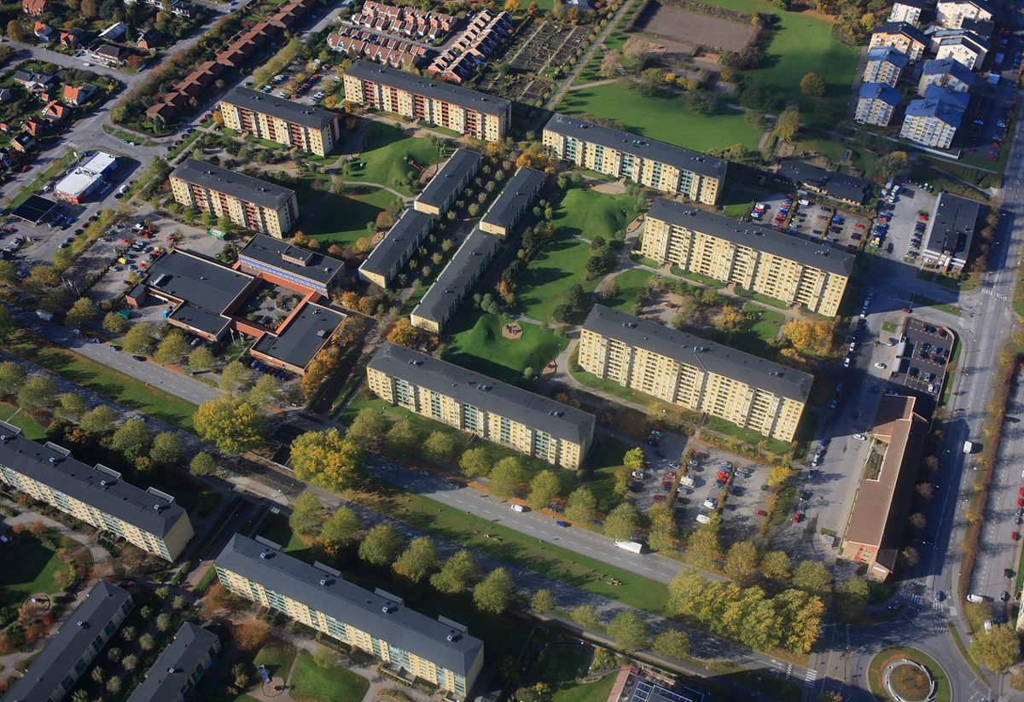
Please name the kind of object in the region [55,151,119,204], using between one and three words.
building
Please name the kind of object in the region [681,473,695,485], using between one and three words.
vehicle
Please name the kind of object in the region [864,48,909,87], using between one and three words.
building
